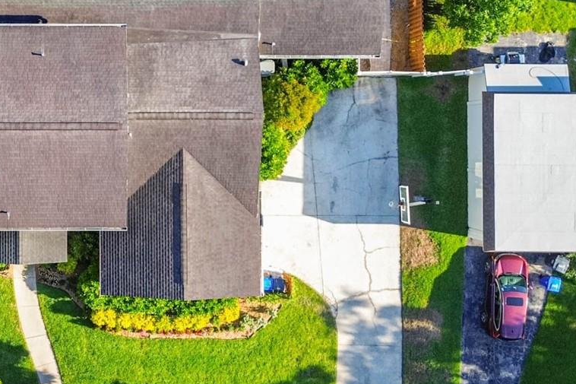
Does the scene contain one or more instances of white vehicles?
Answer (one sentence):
No, no white vehicle is visible in the scene.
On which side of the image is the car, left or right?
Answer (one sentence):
It is on the right.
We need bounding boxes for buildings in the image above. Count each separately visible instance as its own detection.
[0,0,390,301]
[467,64,576,254]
